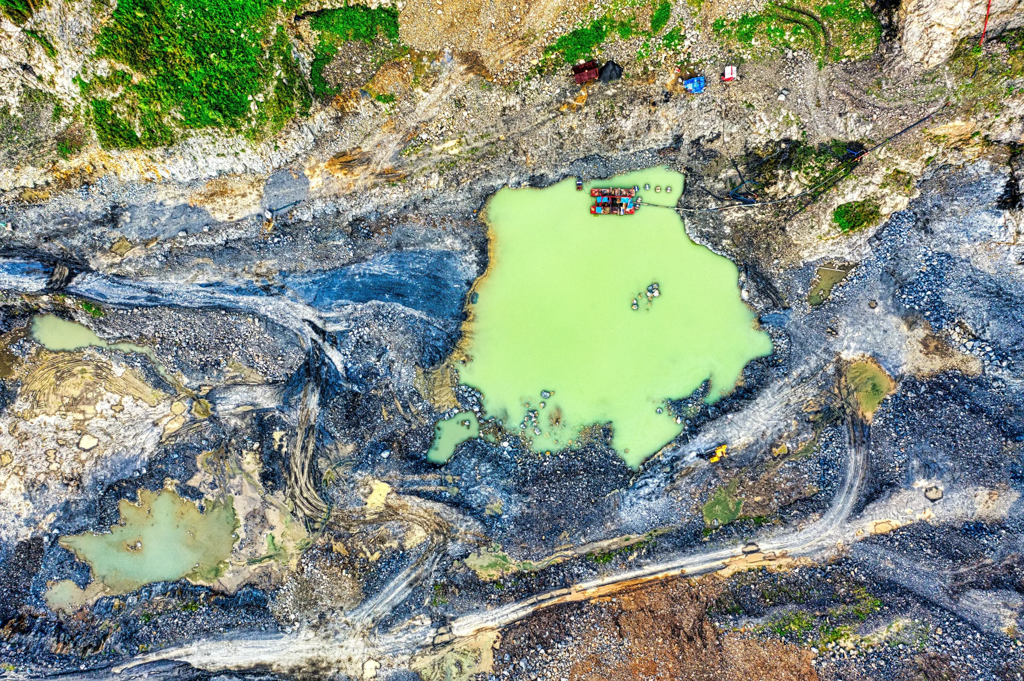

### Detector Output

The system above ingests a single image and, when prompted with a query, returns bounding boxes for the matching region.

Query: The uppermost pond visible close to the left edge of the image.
[32,316,170,379]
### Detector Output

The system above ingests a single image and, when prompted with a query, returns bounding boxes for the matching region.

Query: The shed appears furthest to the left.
[571,61,601,89]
